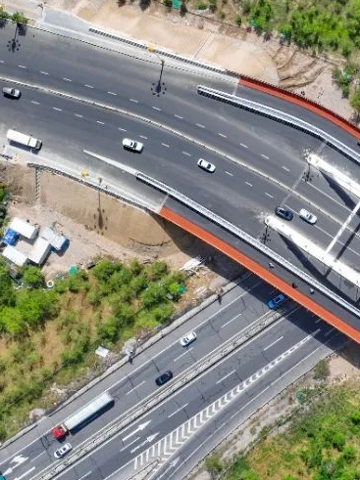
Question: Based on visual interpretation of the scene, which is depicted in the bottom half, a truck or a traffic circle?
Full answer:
The feature located in the bottom half is a truck.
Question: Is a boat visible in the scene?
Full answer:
No, there isn't any boat down there.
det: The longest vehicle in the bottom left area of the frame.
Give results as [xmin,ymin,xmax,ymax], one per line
[52,391,114,440]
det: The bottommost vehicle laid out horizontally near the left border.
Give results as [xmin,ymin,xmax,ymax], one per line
[0,130,42,148]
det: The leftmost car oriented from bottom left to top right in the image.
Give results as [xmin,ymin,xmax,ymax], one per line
[52,443,71,459]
